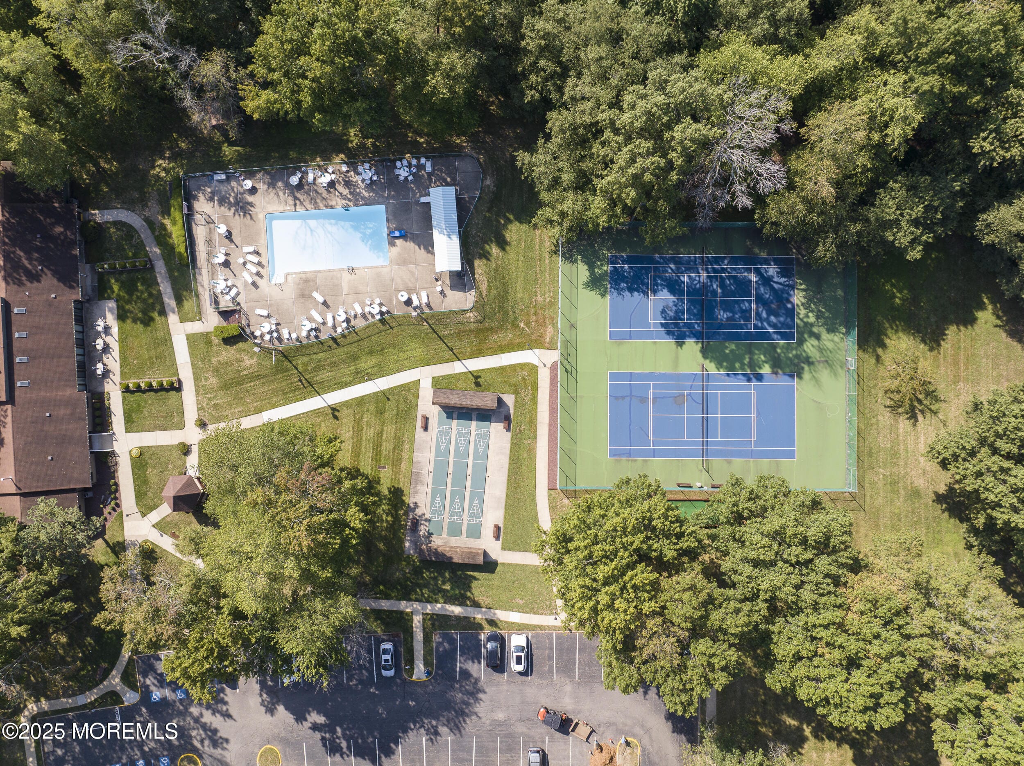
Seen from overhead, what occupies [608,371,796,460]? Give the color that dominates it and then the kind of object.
blue tennis court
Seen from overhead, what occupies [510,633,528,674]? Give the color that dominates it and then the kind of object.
white car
